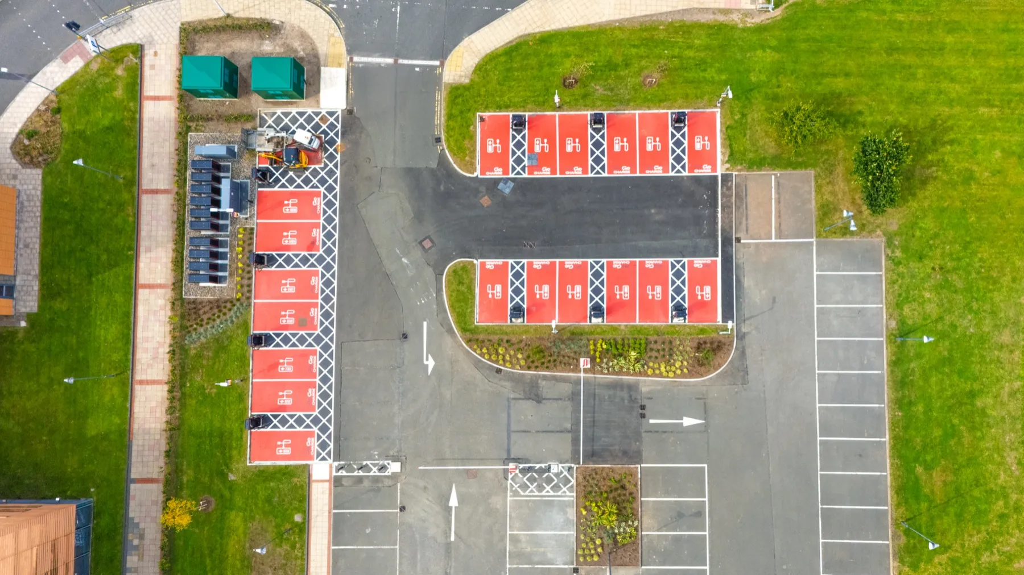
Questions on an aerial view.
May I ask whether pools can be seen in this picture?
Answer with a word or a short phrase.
No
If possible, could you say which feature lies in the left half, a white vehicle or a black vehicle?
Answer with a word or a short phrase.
white vehicle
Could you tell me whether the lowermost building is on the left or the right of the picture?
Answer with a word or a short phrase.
left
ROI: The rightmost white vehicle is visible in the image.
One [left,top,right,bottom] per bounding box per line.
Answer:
[295,129,324,154]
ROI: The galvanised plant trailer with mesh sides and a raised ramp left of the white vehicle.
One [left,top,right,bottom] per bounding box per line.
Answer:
[230,125,295,155]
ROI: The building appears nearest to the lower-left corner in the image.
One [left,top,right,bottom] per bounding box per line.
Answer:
[0,500,93,575]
